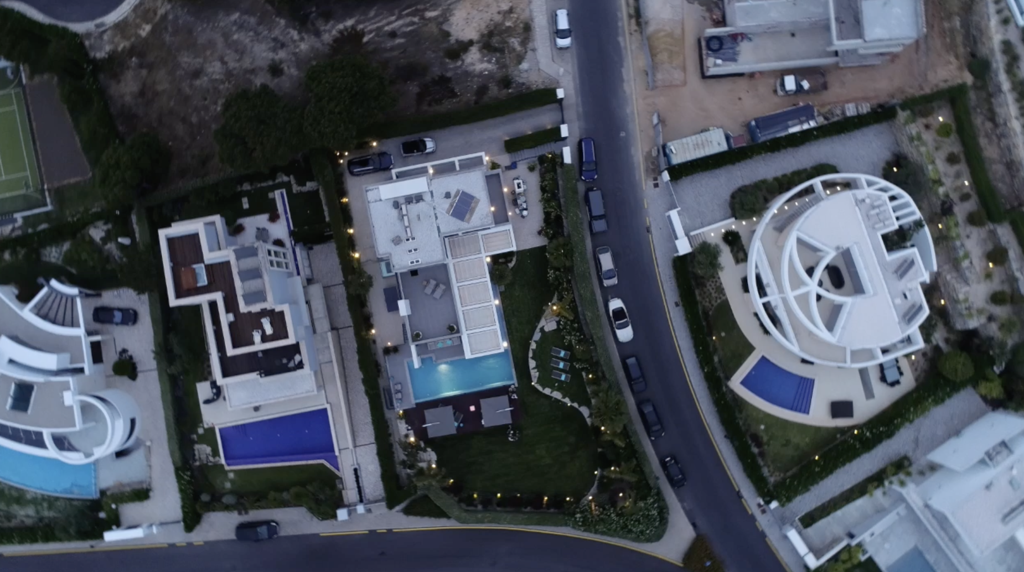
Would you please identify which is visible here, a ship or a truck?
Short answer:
truck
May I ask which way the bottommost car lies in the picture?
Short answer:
horizontally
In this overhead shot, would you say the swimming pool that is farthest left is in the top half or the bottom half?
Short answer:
bottom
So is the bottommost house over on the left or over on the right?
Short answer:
right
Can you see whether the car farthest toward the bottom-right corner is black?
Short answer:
Yes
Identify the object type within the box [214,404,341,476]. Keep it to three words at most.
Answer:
swimming pool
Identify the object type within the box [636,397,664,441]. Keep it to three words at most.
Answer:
car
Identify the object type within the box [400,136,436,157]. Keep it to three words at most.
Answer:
car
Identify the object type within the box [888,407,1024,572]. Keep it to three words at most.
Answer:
house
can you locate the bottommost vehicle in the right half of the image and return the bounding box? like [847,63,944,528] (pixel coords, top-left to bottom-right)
[661,454,686,489]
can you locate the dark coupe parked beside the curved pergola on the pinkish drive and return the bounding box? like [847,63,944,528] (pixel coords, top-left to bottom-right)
[91,306,139,327]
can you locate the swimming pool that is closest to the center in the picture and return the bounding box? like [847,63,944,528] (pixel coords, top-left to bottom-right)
[403,276,520,407]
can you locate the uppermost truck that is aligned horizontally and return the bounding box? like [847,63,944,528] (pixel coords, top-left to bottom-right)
[779,71,828,95]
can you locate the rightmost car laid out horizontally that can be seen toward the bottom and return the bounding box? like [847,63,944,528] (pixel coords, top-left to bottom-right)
[234,519,280,542]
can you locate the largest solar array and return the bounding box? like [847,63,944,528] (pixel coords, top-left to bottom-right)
[446,189,480,223]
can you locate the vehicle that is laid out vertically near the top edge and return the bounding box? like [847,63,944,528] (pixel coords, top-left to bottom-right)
[553,7,572,49]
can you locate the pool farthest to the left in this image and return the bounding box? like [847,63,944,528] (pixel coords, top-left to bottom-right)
[0,444,101,500]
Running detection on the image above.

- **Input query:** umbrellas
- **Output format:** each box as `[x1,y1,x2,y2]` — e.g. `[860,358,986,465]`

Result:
[422,406,457,438]
[480,395,518,427]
